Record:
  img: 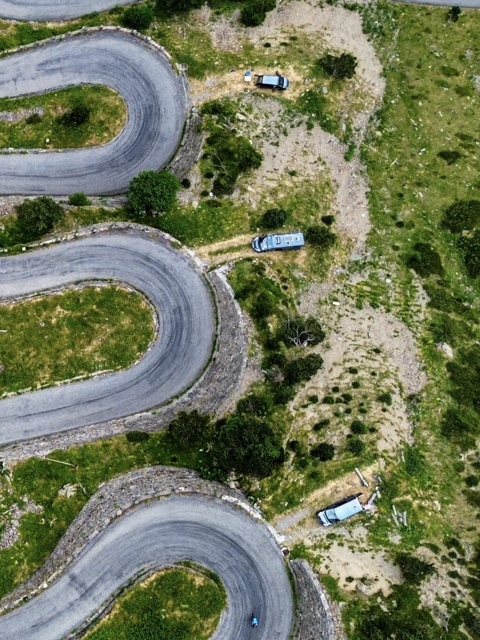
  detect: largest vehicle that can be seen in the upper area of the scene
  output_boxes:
[249,233,308,253]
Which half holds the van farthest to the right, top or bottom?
bottom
